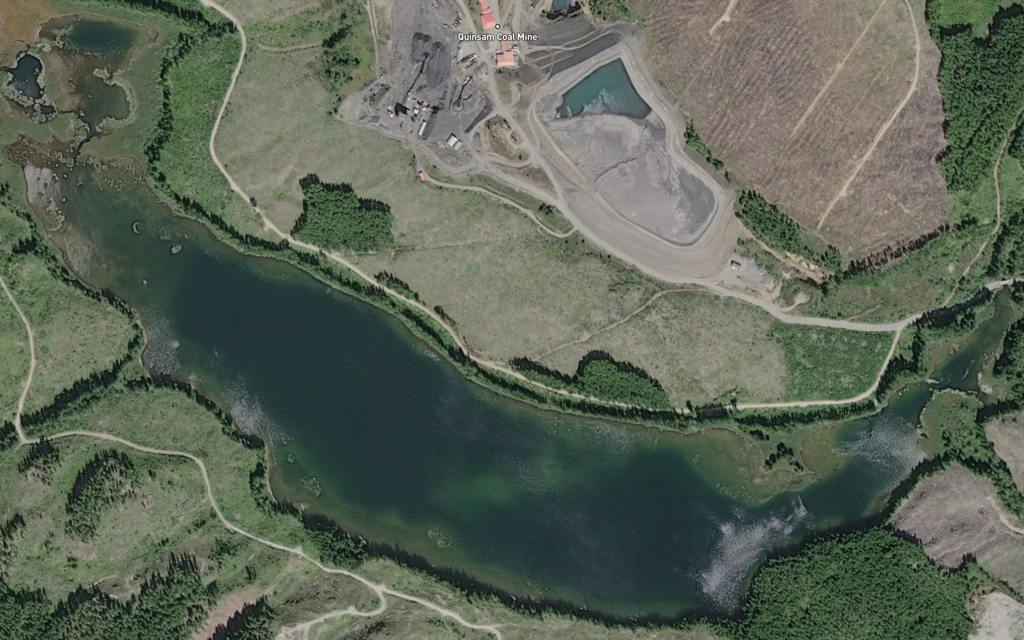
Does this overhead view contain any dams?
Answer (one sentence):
Yes, there is a dam in the image.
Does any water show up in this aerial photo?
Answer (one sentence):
Yes, there is water in the image.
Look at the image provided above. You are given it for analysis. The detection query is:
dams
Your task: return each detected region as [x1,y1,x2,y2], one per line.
[530,24,740,280]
